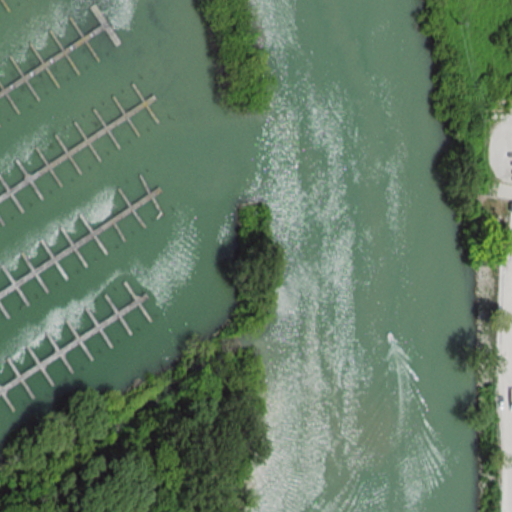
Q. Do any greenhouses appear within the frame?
No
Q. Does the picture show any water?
Yes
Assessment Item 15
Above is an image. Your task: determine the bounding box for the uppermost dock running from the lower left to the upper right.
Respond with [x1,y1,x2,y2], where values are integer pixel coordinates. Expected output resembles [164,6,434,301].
[0,6,121,114]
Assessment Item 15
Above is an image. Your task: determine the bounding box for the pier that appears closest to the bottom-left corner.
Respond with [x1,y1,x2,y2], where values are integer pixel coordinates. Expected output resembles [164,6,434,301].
[0,282,152,412]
